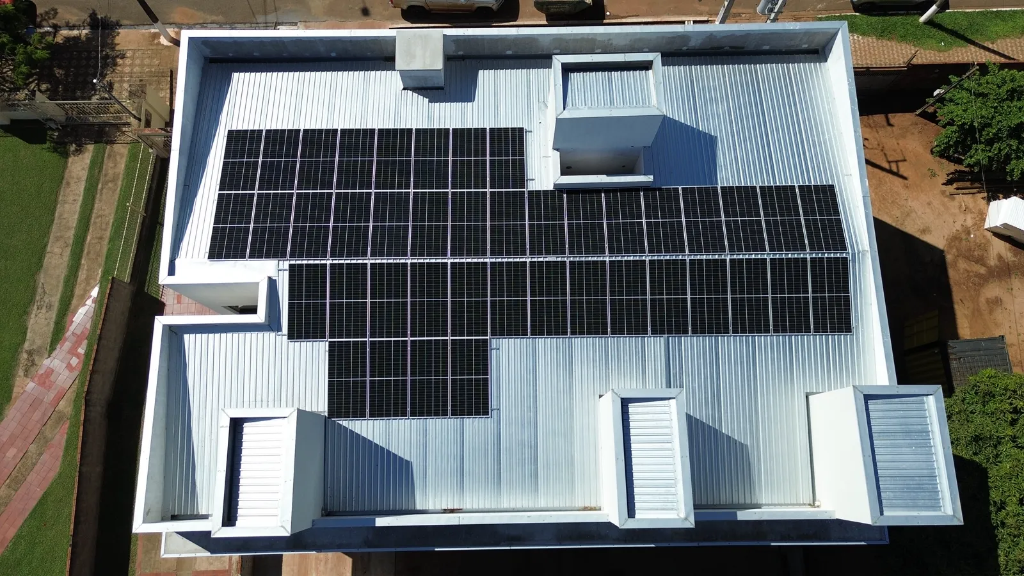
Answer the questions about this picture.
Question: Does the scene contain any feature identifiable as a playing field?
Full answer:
No, no playing field is visible in the scene.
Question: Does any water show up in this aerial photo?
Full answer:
No, the scene doesn't show any water.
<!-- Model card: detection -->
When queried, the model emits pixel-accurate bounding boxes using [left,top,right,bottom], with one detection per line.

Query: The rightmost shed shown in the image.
[977,198,1024,248]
